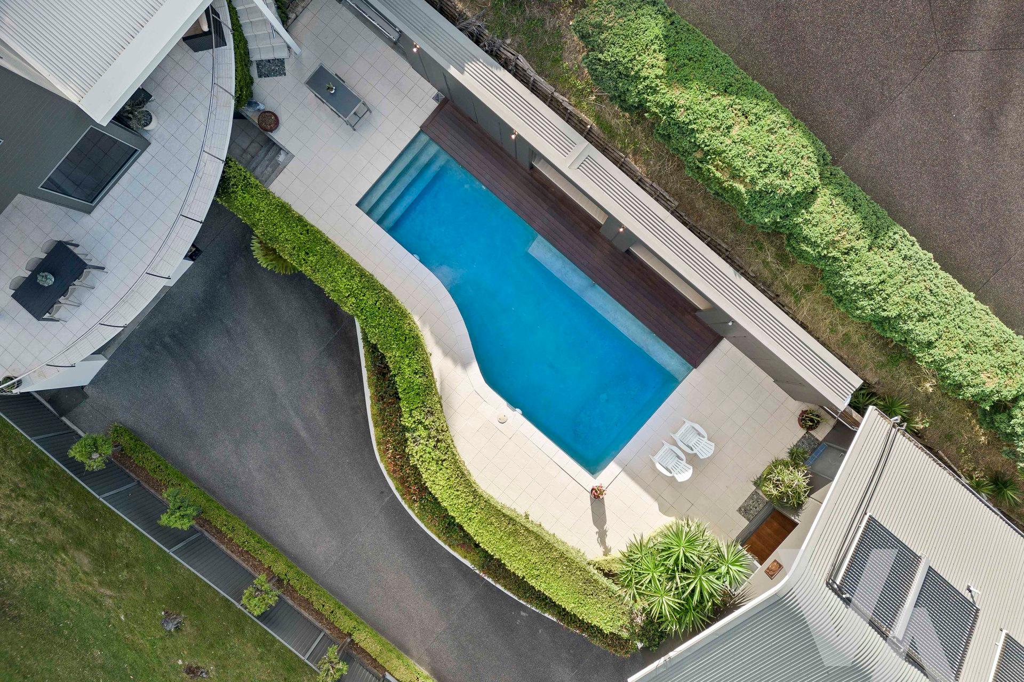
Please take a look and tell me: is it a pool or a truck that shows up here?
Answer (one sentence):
I can see a pool in this picture.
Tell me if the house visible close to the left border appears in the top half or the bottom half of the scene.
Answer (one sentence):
The house visible close to the left border sits in the top half of the picture.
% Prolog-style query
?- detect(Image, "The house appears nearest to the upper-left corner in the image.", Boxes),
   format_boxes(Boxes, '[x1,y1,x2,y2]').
[0,0,240,397]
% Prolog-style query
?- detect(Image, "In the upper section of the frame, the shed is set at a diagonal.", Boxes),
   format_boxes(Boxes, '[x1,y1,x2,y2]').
[348,0,870,422]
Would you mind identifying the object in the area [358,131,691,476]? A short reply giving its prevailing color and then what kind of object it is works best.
blue swimming pool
